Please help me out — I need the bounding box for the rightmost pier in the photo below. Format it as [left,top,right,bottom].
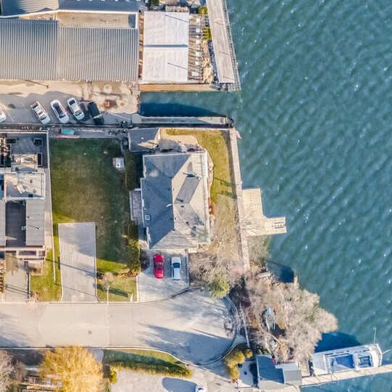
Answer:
[301,364,392,385]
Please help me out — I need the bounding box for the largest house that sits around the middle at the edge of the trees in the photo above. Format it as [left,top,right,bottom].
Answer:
[140,151,212,255]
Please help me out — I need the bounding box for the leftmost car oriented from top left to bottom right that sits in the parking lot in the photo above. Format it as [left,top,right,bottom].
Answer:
[30,101,49,125]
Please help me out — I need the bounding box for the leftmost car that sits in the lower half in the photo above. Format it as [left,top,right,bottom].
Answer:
[153,255,166,278]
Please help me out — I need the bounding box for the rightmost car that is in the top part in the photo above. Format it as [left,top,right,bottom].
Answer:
[86,101,105,125]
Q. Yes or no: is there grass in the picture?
Yes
